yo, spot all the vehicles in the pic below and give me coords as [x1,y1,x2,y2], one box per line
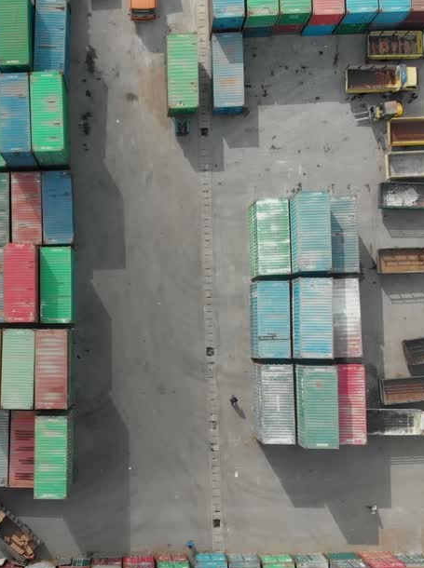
[349,95,402,120]
[0,496,44,566]
[384,116,424,149]
[382,149,424,182]
[397,335,424,368]
[366,30,424,64]
[376,374,424,405]
[377,182,424,212]
[366,409,424,436]
[127,0,160,28]
[344,63,418,97]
